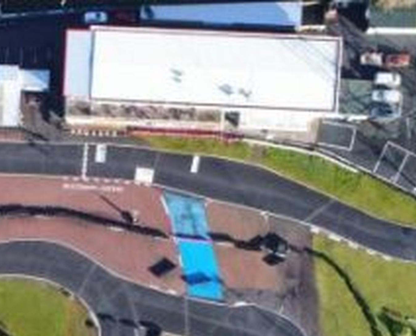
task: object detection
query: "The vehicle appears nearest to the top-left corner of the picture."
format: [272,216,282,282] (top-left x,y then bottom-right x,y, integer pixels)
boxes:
[80,5,113,23]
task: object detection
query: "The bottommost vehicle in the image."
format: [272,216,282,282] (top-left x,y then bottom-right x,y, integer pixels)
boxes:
[372,101,402,116]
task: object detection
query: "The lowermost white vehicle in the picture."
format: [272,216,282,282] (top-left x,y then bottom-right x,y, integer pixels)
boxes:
[373,86,405,102]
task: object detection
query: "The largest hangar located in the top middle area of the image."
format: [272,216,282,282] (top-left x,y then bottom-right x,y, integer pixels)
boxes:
[88,24,344,126]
